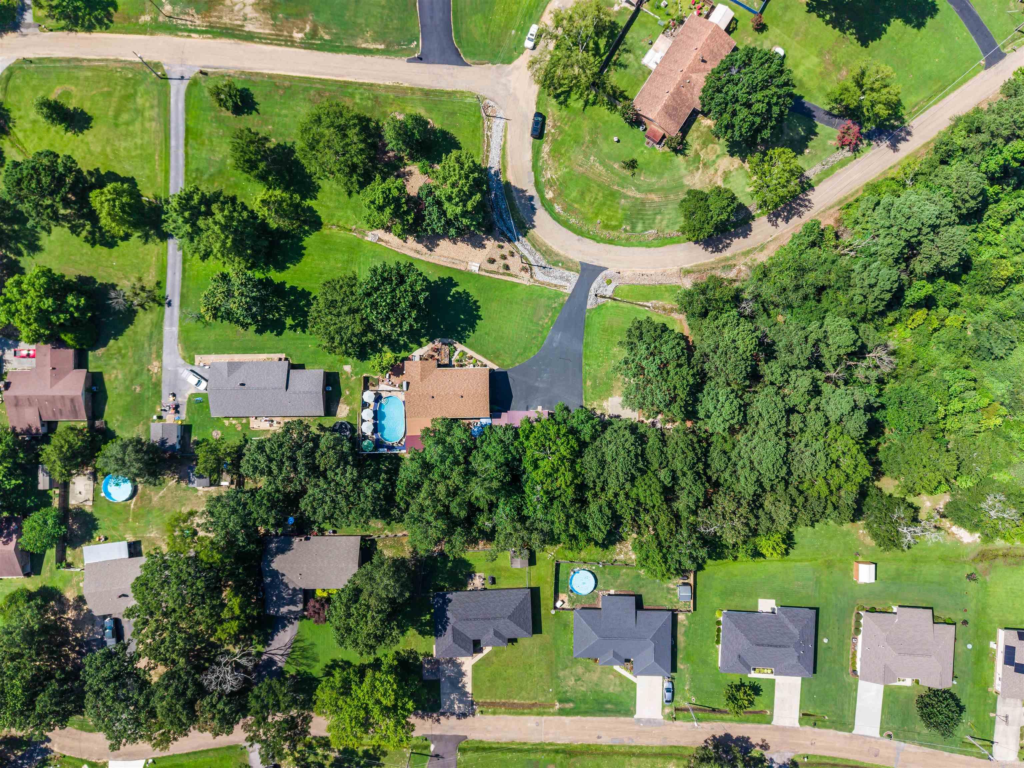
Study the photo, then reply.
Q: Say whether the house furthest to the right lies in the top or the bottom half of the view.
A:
bottom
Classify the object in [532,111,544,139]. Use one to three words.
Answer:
vehicle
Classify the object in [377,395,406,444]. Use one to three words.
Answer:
swimming pool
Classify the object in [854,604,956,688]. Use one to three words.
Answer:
house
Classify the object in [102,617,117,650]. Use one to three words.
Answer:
vehicle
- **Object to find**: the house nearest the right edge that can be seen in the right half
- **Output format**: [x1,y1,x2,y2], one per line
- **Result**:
[993,627,1024,699]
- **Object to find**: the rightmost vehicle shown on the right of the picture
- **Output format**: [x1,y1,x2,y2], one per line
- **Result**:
[663,679,675,707]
